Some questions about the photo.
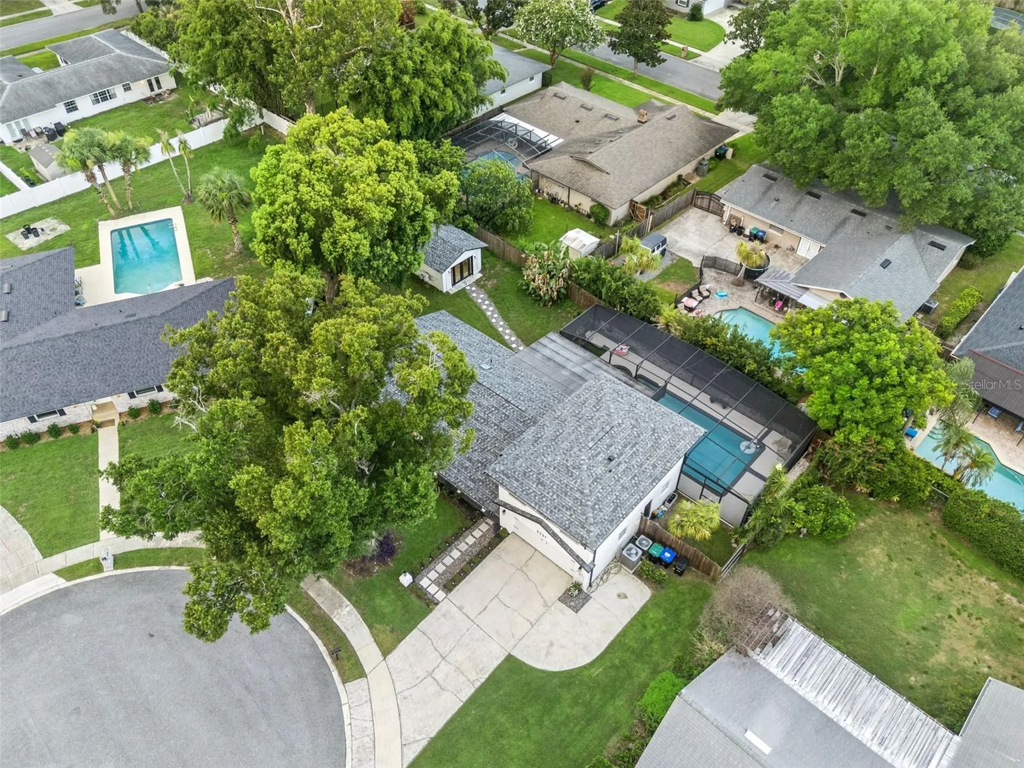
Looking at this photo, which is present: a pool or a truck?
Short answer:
pool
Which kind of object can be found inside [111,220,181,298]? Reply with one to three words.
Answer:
swimming pool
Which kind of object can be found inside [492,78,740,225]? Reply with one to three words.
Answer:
house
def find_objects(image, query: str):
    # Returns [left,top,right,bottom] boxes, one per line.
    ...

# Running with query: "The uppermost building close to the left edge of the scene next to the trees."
[0,36,169,148]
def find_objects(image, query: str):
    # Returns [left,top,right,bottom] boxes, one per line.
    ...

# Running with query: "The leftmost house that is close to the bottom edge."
[641,646,898,768]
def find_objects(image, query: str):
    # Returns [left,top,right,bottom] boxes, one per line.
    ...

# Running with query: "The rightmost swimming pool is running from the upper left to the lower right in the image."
[924,422,1024,506]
